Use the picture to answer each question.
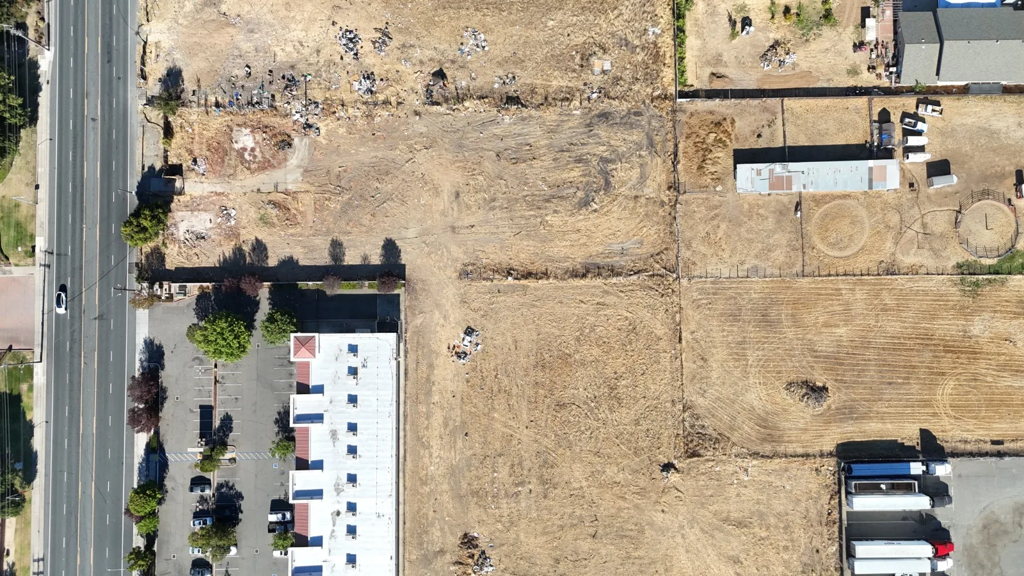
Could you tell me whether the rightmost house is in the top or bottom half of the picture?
top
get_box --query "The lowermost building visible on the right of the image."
[734,159,899,194]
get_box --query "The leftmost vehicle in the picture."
[55,291,68,314]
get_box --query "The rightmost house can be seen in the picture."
[894,8,1024,86]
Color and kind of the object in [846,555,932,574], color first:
white trailer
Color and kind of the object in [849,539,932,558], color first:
white trailer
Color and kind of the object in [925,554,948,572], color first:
white vehicle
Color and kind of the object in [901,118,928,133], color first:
white vehicle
